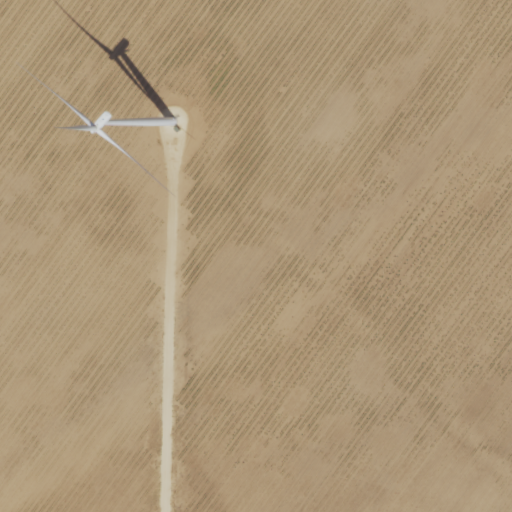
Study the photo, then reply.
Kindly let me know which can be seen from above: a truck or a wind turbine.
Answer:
wind turbine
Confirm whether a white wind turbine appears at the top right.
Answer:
No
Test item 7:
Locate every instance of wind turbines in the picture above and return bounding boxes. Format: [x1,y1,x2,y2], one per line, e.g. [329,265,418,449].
[26,66,182,194]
